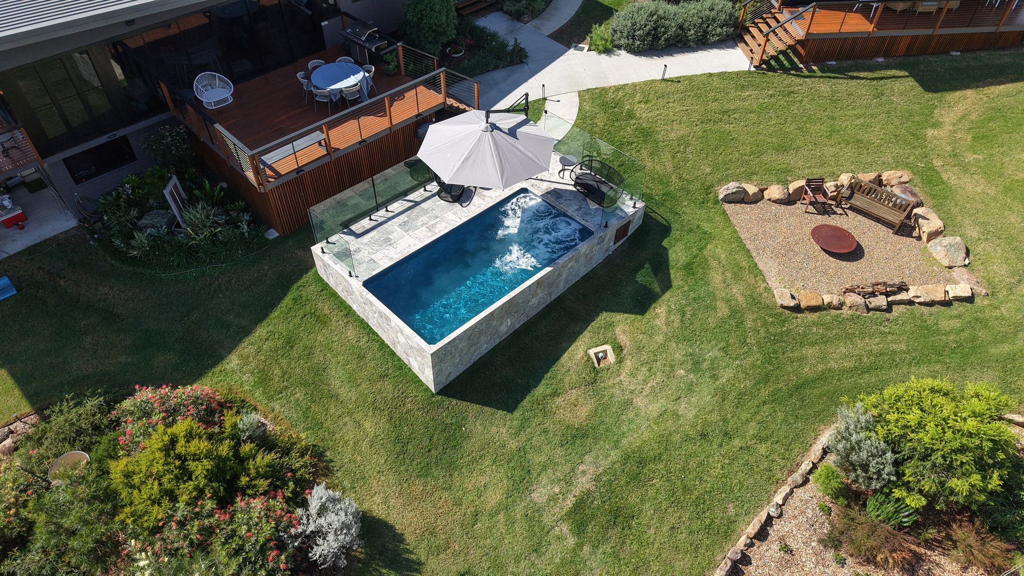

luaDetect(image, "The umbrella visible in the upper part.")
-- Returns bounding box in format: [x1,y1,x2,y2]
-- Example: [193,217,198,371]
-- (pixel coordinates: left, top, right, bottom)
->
[416,91,557,193]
